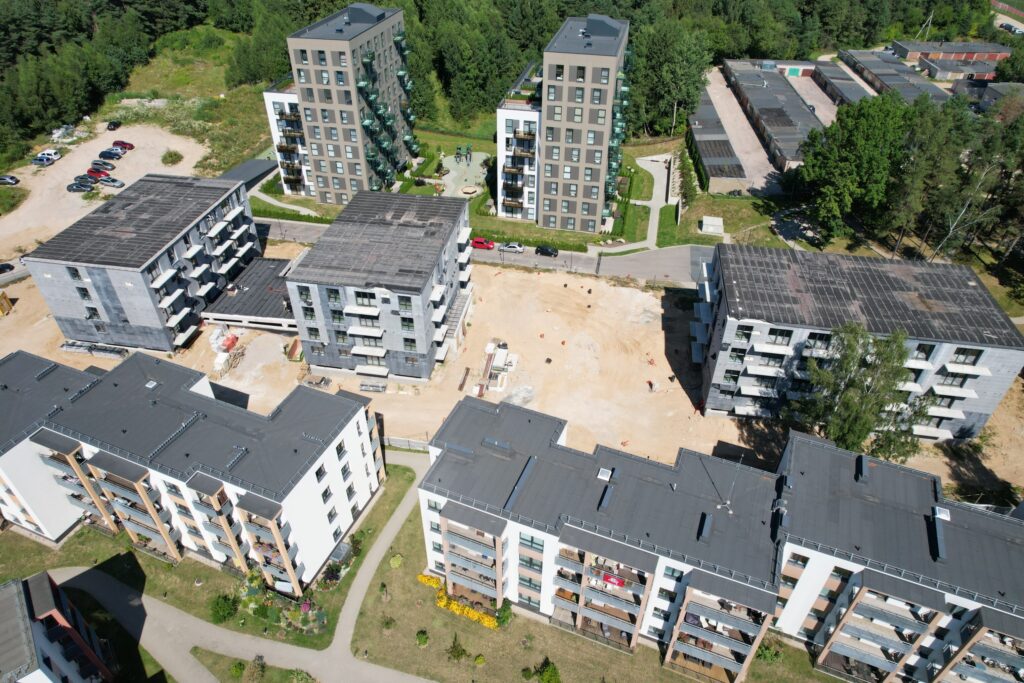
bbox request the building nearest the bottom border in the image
[0,570,108,683]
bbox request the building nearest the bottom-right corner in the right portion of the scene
[765,434,1024,683]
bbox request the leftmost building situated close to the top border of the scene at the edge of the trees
[262,3,420,205]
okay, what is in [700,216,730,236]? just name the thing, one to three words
building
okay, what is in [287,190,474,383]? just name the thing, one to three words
building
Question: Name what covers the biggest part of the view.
buildings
